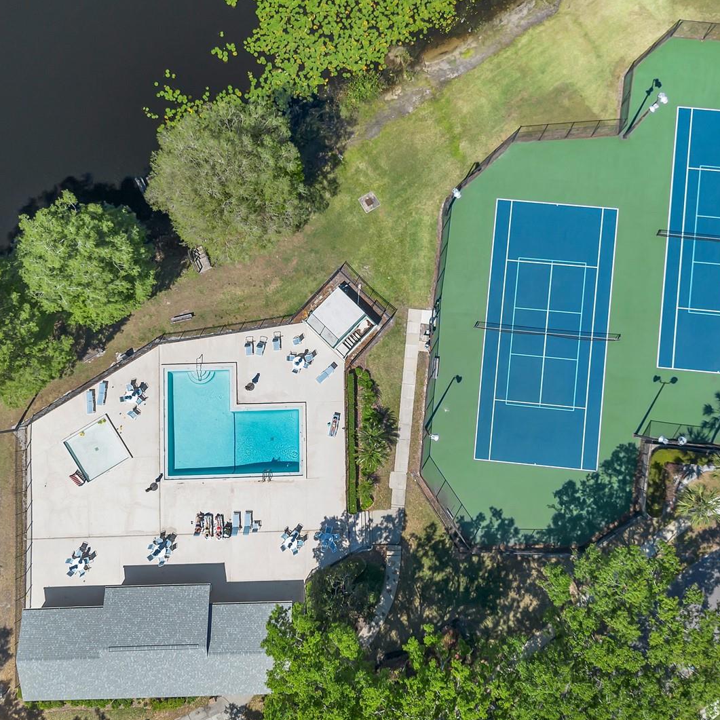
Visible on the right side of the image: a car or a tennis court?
tennis court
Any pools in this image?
Yes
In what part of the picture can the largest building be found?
bottom left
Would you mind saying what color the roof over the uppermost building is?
white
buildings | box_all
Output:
[308,286,379,358]
[16,582,297,699]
